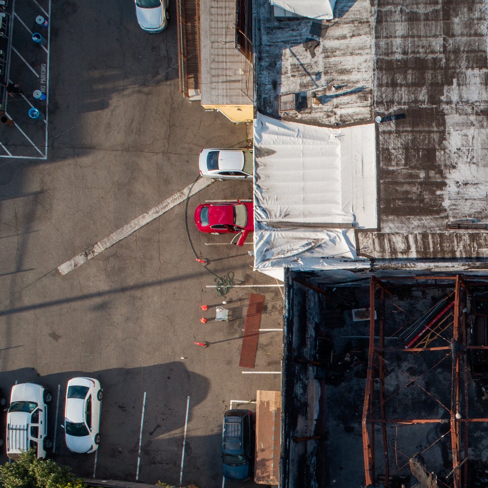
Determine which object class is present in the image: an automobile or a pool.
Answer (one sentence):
This aerial view contains an automobile.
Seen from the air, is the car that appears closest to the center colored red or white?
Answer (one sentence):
In this view, the car that appears closest to the center is red.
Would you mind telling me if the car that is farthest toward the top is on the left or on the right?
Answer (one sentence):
The car that is farthest toward the top is on the left side of the image.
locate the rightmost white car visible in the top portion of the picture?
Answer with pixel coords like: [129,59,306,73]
[197,147,254,183]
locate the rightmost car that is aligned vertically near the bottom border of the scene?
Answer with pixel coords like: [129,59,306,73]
[220,411,256,483]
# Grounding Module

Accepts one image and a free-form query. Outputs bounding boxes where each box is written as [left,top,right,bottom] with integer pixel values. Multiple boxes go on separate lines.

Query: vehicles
[6,383,53,459]
[195,201,258,246]
[133,0,172,37]
[63,380,105,453]
[220,411,256,483]
[197,147,254,183]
